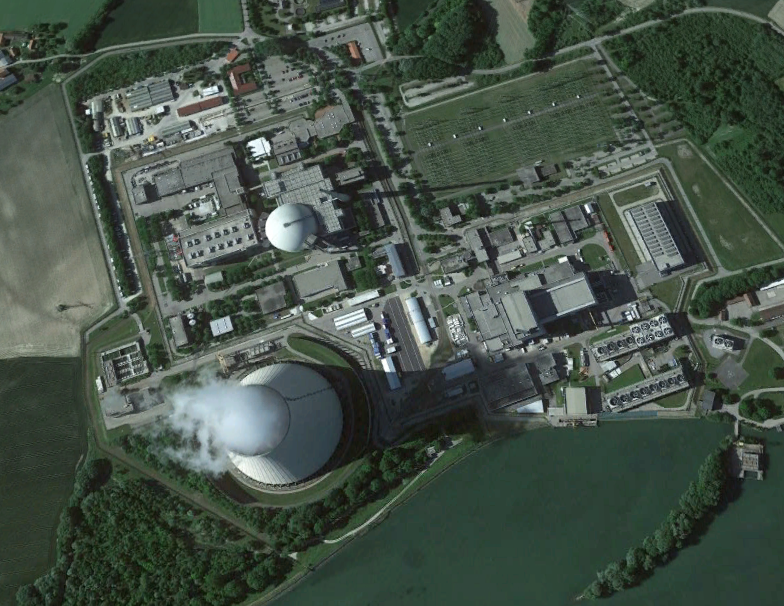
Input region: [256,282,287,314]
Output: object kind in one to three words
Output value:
building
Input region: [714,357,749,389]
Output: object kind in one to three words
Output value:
helipad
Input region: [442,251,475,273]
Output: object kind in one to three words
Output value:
building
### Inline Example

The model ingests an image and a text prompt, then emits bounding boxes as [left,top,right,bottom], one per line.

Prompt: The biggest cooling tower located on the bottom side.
[215,360,344,487]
